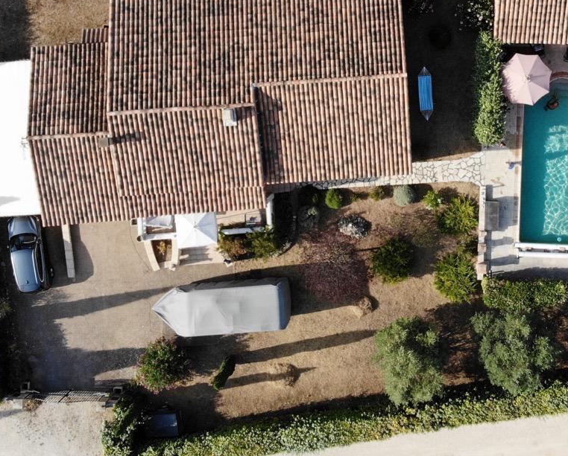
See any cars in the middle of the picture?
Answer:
No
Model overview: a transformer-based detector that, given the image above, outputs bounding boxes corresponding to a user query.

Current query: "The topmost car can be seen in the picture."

[3,216,51,295]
